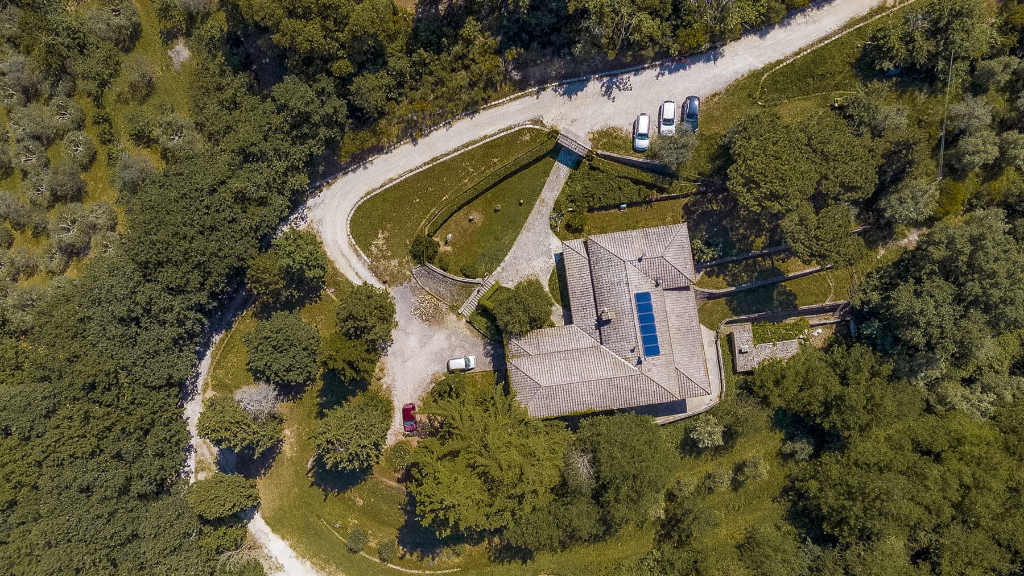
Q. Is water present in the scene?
No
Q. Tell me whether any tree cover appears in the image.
Yes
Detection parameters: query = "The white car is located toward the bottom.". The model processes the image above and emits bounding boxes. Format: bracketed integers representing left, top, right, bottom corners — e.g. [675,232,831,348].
[447,355,476,371]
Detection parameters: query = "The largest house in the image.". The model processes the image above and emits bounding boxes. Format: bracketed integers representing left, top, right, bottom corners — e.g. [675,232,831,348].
[504,221,712,422]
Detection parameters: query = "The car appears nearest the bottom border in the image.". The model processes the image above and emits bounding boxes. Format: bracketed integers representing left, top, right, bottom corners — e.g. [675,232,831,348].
[402,402,417,432]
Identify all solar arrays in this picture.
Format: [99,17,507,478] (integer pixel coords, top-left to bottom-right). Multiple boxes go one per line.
[632,291,660,361]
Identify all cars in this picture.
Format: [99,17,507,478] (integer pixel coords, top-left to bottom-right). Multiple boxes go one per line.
[402,402,417,432]
[447,355,476,371]
[658,100,676,137]
[680,95,699,134]
[631,113,649,153]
